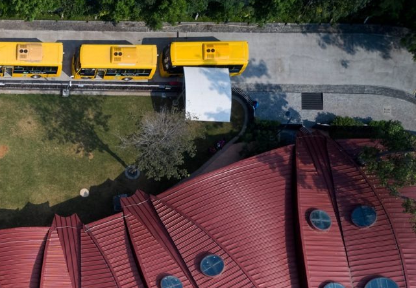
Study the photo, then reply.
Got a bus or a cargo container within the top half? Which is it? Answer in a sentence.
You can see a bus within the top half.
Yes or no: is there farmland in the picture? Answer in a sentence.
No, the picture contains no farmland.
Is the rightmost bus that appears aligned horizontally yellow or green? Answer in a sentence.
The color of the rightmost bus that appears aligned horizontally is yellow.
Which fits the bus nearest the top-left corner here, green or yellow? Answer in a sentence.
From above, the bus nearest the top-left corner appears yellow.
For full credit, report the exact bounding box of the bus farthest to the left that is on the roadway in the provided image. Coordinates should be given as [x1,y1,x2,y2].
[0,41,63,79]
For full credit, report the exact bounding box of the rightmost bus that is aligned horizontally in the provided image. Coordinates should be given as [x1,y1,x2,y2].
[152,41,247,79]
